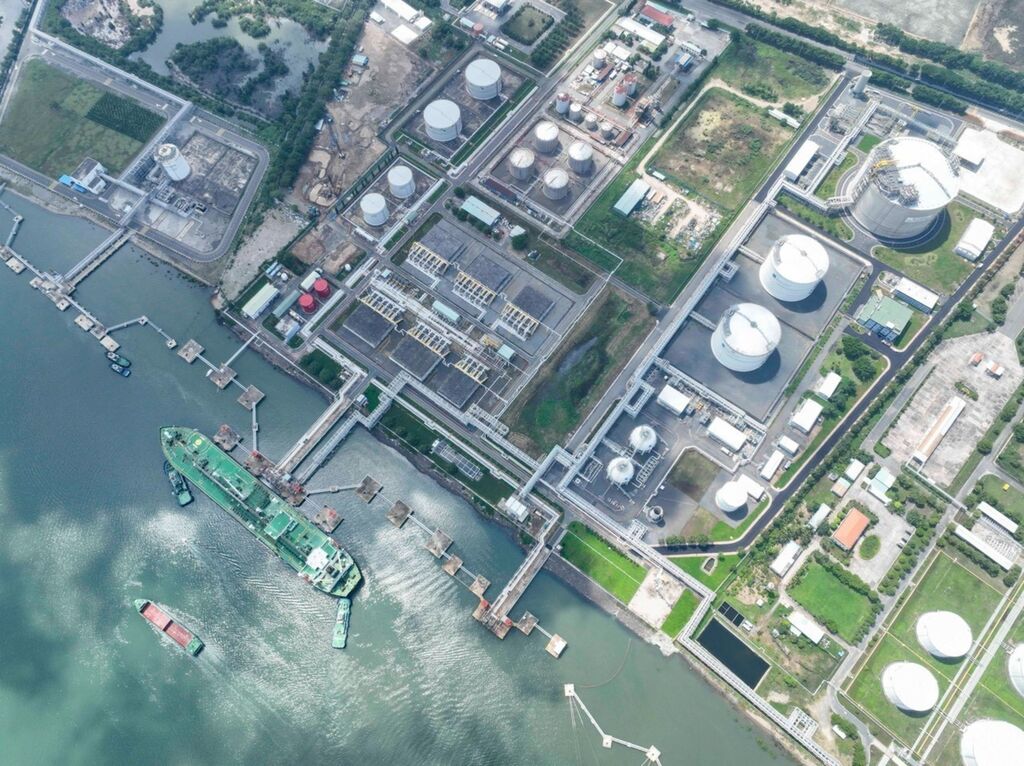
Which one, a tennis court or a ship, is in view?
ship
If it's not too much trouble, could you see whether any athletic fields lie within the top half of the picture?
No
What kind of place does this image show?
industrial area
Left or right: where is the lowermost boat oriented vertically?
left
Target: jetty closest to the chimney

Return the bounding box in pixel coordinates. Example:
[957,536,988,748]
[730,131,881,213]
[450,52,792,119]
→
[495,517,576,616]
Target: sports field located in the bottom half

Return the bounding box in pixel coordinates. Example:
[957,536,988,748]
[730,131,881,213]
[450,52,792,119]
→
[790,565,872,643]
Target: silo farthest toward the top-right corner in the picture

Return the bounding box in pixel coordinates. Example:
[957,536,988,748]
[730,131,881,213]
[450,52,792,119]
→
[849,68,873,98]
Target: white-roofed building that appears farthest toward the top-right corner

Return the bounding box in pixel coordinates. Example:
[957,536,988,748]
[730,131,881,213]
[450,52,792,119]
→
[950,129,988,166]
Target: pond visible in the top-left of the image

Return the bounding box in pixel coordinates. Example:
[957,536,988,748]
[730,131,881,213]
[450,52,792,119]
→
[129,0,328,112]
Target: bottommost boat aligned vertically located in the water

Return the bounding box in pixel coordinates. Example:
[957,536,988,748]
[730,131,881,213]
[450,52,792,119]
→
[331,597,352,649]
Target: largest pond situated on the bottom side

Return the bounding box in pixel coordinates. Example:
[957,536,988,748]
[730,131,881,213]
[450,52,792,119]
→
[697,618,770,689]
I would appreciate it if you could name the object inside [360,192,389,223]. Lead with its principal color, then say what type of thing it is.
white storage tank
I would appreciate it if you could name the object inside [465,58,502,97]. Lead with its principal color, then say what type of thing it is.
white storage tank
